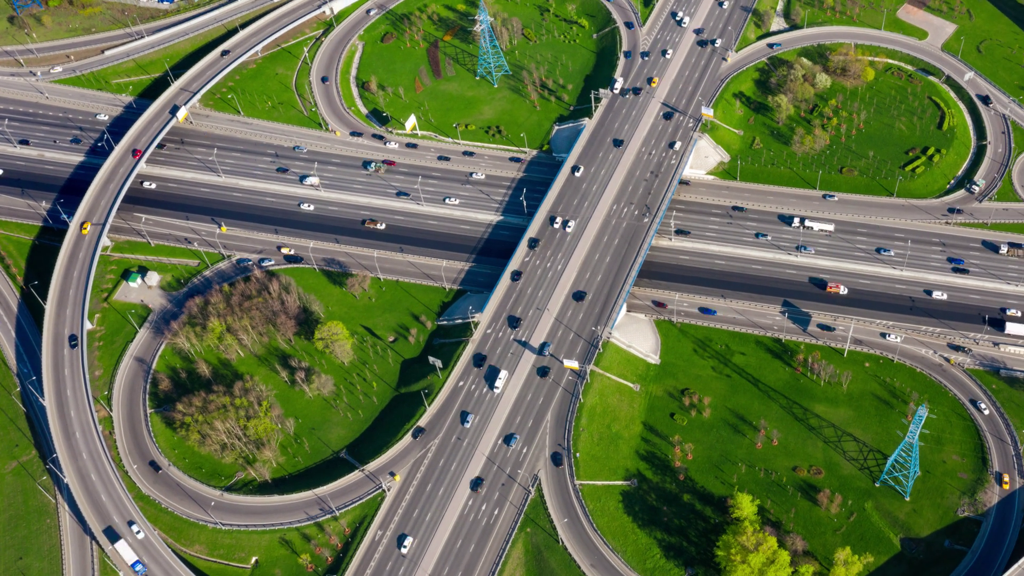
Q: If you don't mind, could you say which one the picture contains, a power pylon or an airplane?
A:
power pylon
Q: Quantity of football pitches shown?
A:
0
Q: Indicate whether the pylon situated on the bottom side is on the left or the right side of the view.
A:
right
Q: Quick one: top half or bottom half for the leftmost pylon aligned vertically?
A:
top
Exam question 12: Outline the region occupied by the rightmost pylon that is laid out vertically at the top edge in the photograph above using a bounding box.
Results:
[476,0,511,88]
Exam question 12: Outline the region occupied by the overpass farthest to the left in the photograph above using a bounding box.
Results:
[42,0,356,576]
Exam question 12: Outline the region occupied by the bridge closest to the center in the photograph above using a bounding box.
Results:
[487,109,696,334]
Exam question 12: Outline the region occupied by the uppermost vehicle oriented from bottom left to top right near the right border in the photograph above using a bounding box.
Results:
[965,178,986,198]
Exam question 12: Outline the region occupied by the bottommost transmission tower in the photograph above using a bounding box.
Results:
[874,396,932,499]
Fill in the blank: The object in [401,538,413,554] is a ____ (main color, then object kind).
white vehicle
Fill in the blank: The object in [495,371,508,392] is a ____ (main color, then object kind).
white vehicle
